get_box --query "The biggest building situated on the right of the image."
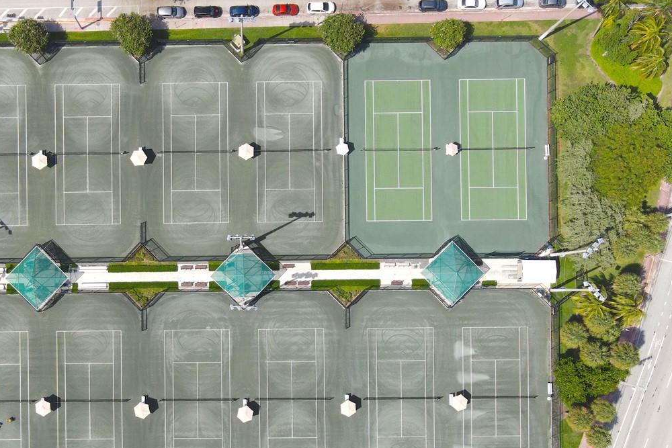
[422,241,484,305]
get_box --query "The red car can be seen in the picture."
[271,2,299,17]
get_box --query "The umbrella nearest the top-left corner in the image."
[33,151,48,169]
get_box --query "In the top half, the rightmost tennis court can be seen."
[445,42,548,257]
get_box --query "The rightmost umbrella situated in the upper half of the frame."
[443,142,459,156]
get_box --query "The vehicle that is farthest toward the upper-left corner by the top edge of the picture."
[158,5,186,20]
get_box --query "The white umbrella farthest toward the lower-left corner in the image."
[35,398,51,415]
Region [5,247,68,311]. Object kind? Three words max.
building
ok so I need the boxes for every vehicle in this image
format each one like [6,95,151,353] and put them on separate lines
[418,0,447,13]
[495,0,524,10]
[538,0,567,8]
[308,2,334,16]
[231,3,259,19]
[195,5,222,20]
[158,5,186,20]
[271,2,299,17]
[456,0,485,12]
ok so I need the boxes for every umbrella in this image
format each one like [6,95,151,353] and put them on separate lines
[133,401,150,419]
[340,399,356,415]
[130,149,148,166]
[33,151,48,169]
[238,143,254,161]
[443,142,459,156]
[236,405,253,422]
[336,141,349,156]
[450,392,466,410]
[35,398,51,415]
